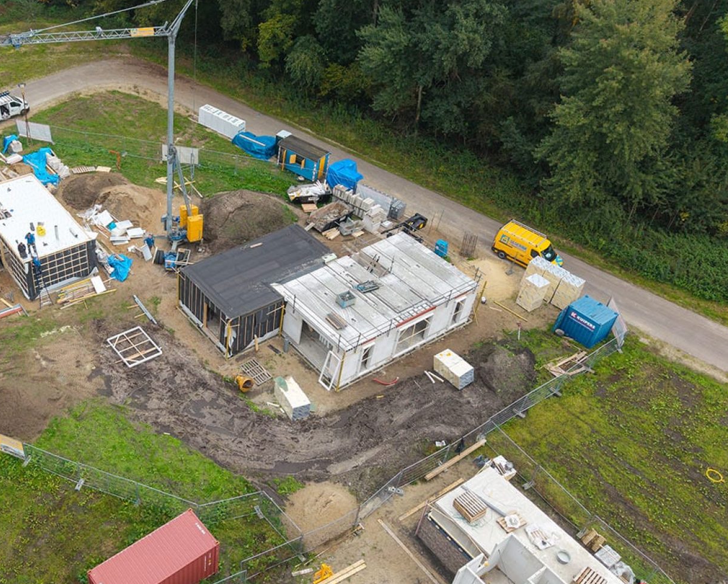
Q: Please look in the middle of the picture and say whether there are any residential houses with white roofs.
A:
Yes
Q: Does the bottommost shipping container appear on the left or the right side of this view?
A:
left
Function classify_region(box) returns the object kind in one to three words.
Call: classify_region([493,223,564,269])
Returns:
van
